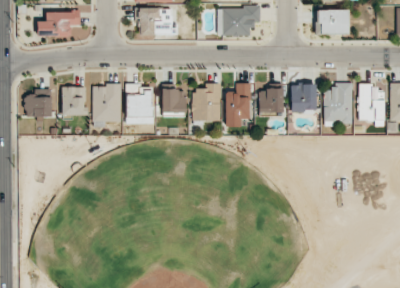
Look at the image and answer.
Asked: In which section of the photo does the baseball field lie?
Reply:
bottom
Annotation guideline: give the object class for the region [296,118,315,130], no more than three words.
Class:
swimming pool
